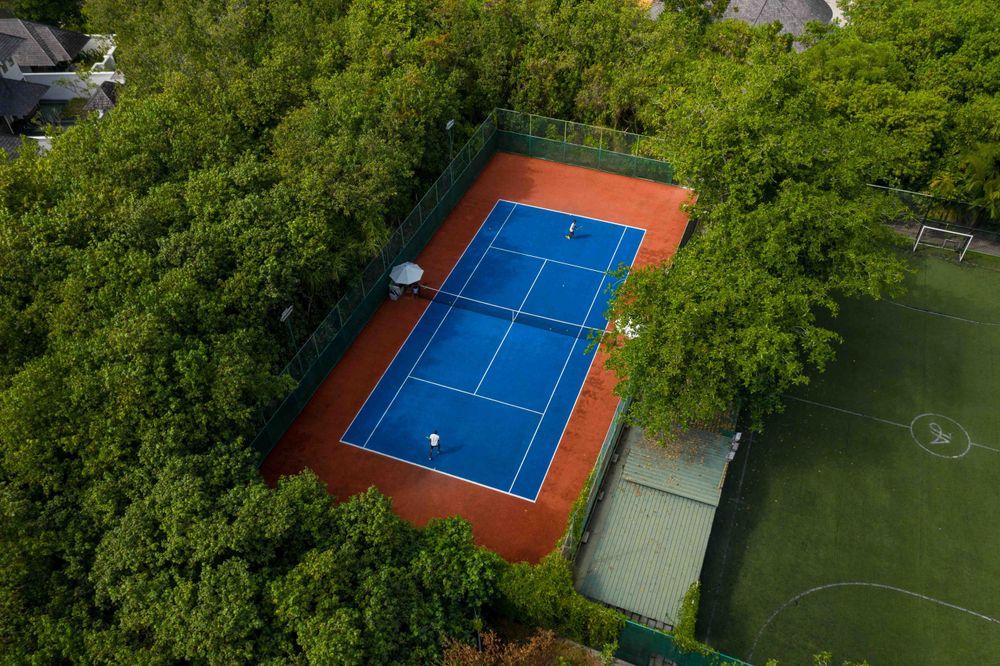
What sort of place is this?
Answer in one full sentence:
What you see here is a sports ground.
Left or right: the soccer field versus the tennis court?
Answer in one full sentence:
The soccer field is to the right of the tennis court.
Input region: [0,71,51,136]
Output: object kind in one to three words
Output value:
house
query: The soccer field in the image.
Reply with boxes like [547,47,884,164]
[696,229,1000,666]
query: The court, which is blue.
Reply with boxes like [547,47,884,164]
[255,152,697,631]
